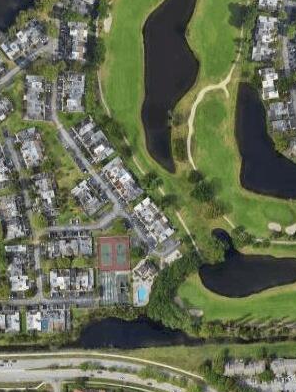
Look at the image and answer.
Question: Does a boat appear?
No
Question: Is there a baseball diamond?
No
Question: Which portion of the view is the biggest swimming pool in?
bottom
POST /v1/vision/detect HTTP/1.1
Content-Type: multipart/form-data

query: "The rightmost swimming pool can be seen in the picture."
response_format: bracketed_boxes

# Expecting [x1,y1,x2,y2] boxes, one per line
[133,277,153,308]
